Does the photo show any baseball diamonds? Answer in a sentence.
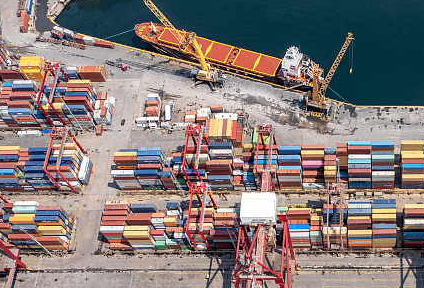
No, no baseball diamond can be seen from above.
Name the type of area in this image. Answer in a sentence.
What you see here is a port.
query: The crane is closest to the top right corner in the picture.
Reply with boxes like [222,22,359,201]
[301,32,352,119]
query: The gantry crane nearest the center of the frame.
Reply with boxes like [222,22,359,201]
[180,127,208,187]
